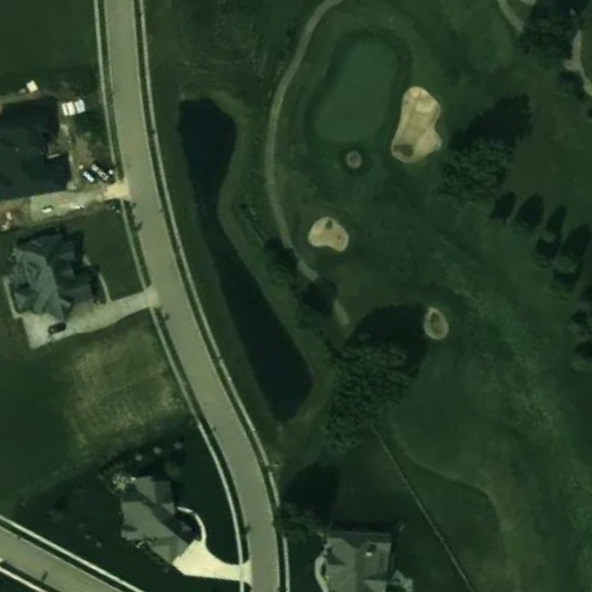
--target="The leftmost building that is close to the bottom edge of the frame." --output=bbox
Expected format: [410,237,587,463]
[117,476,198,566]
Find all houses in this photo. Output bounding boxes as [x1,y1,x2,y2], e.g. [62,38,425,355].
[325,533,395,592]
[117,476,198,566]
[7,231,94,323]
[0,98,70,201]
